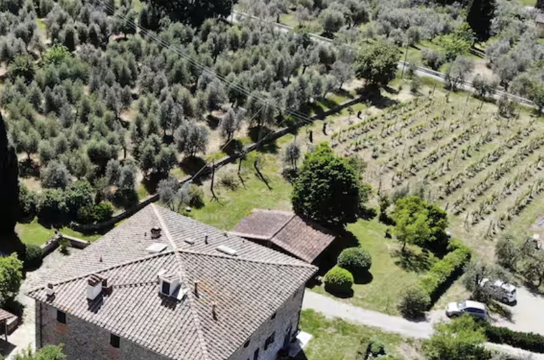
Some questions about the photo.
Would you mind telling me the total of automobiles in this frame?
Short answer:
2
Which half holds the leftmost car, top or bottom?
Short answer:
bottom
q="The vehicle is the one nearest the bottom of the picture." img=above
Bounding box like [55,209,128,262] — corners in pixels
[447,299,493,322]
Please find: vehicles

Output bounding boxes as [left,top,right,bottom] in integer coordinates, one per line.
[479,280,523,304]
[447,299,493,322]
